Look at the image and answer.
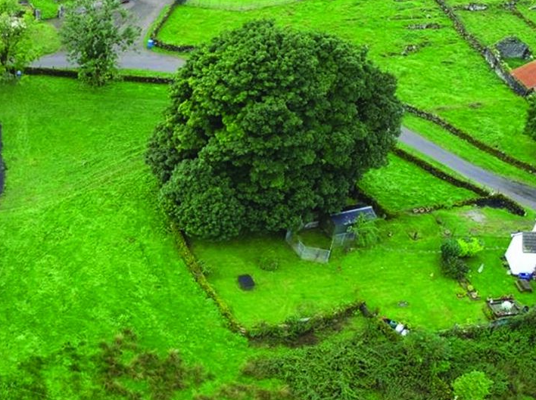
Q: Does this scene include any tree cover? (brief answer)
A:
Yes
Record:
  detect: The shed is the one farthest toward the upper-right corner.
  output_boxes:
[498,38,534,67]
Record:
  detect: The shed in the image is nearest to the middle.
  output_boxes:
[322,200,378,234]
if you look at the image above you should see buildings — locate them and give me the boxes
[507,61,536,99]
[499,233,536,275]
[498,38,534,67]
[322,200,378,234]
